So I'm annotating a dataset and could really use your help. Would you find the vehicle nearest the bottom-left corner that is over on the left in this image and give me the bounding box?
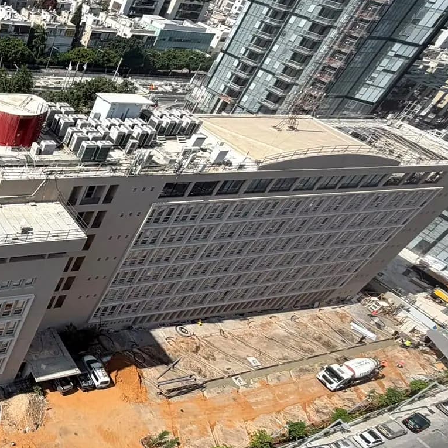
[56,376,79,400]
